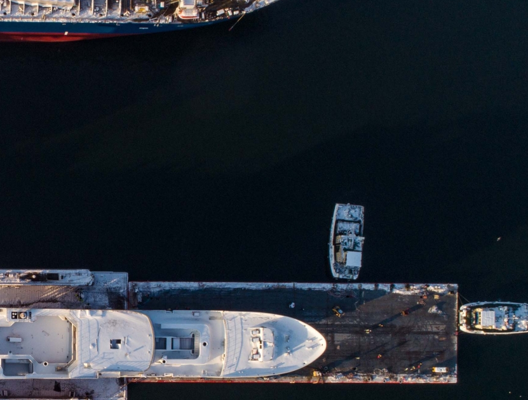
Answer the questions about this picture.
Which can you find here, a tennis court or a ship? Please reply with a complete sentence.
Visible in the photo is a ship.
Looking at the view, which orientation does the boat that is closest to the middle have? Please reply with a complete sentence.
From this overhead view, the boat that is closest to the middle appears to run up and down.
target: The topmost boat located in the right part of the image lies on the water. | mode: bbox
[327,204,366,279]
